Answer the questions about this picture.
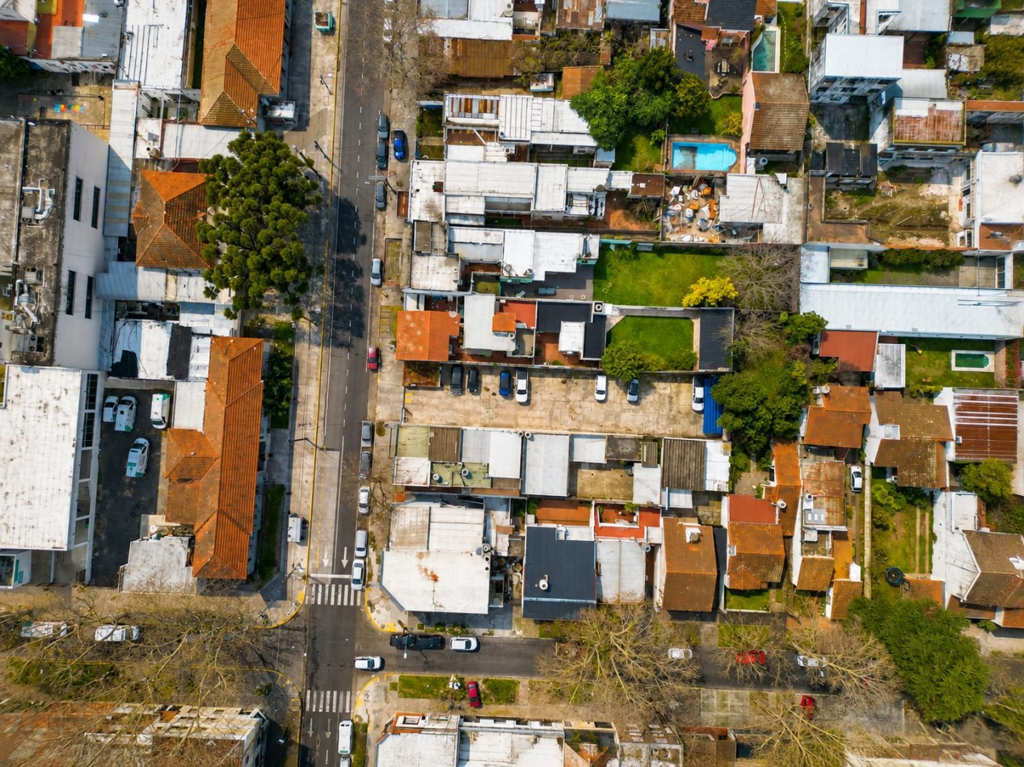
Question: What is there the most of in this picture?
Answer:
buildings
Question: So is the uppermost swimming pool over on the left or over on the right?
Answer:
right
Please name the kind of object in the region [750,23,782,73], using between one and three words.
swimming pool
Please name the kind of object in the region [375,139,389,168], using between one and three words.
car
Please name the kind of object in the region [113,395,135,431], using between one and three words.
vehicle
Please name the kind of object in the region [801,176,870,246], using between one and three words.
building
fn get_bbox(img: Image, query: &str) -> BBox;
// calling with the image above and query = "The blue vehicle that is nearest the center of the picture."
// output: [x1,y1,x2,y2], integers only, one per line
[499,371,512,396]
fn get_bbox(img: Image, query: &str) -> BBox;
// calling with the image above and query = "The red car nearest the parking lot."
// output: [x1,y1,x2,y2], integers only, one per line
[366,346,379,371]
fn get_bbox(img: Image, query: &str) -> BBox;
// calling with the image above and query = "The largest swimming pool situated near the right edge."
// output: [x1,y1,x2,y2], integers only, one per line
[954,349,996,372]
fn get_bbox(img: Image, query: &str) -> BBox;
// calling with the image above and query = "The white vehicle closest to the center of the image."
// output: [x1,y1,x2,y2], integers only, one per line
[517,370,531,403]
